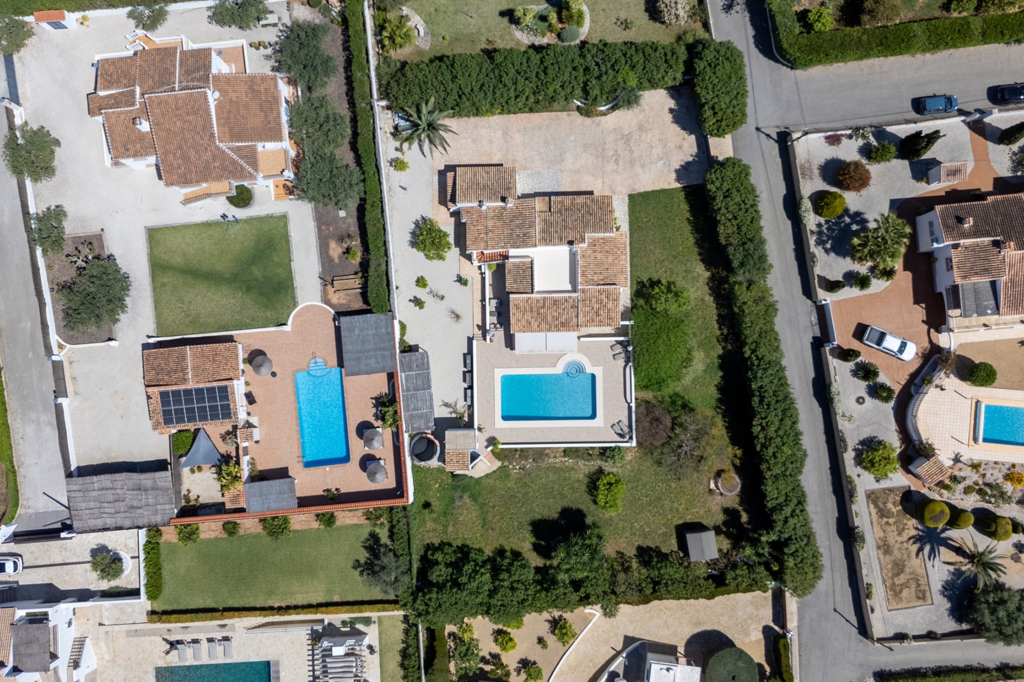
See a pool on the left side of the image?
Yes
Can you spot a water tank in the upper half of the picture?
No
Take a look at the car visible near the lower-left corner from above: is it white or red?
white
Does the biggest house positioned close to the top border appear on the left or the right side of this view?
left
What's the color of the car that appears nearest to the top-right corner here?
black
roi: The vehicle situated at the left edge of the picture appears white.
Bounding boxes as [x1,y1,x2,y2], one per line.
[0,552,26,574]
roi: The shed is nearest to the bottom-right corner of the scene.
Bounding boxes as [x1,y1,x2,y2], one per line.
[910,456,948,486]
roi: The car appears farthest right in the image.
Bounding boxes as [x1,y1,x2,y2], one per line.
[998,84,1024,107]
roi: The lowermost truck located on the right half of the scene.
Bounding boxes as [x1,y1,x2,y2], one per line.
[856,323,913,360]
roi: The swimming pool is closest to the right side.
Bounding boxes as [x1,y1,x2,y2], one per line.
[969,397,1024,454]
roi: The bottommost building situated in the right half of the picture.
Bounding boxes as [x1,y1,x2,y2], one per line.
[594,633,701,682]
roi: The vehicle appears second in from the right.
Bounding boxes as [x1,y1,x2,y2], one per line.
[918,91,959,114]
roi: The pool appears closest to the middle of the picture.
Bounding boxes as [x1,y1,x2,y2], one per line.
[495,353,603,428]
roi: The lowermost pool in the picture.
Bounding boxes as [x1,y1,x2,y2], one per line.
[154,659,272,682]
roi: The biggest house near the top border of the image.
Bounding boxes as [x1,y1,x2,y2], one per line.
[87,26,300,204]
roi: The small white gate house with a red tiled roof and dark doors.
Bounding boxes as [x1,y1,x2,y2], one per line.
[34,10,81,30]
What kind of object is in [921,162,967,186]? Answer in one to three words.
shed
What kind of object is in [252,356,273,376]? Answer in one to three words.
umbrella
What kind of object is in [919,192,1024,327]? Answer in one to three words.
house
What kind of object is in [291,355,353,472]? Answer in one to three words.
swimming pool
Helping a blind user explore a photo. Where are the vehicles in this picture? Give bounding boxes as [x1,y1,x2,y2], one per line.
[998,84,1024,107]
[0,552,26,574]
[918,91,959,114]
[856,323,913,360]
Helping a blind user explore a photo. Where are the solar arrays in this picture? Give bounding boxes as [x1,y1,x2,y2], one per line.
[159,385,233,425]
